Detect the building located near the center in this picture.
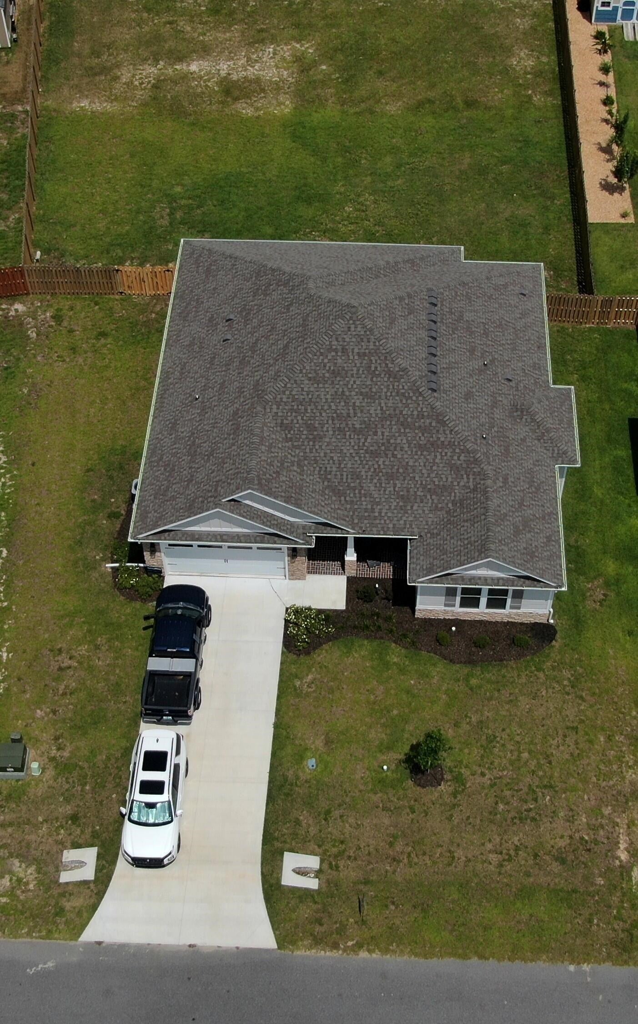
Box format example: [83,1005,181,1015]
[130,238,580,629]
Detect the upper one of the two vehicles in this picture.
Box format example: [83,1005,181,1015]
[141,583,210,724]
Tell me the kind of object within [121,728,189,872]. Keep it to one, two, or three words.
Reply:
car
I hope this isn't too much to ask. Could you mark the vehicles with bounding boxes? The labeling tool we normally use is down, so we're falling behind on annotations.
[121,728,189,872]
[141,583,210,724]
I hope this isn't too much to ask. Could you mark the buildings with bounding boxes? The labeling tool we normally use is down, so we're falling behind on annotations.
[130,238,580,629]
[590,0,638,24]
[0,0,20,47]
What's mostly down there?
grass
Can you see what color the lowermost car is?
white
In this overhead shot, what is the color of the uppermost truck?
black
